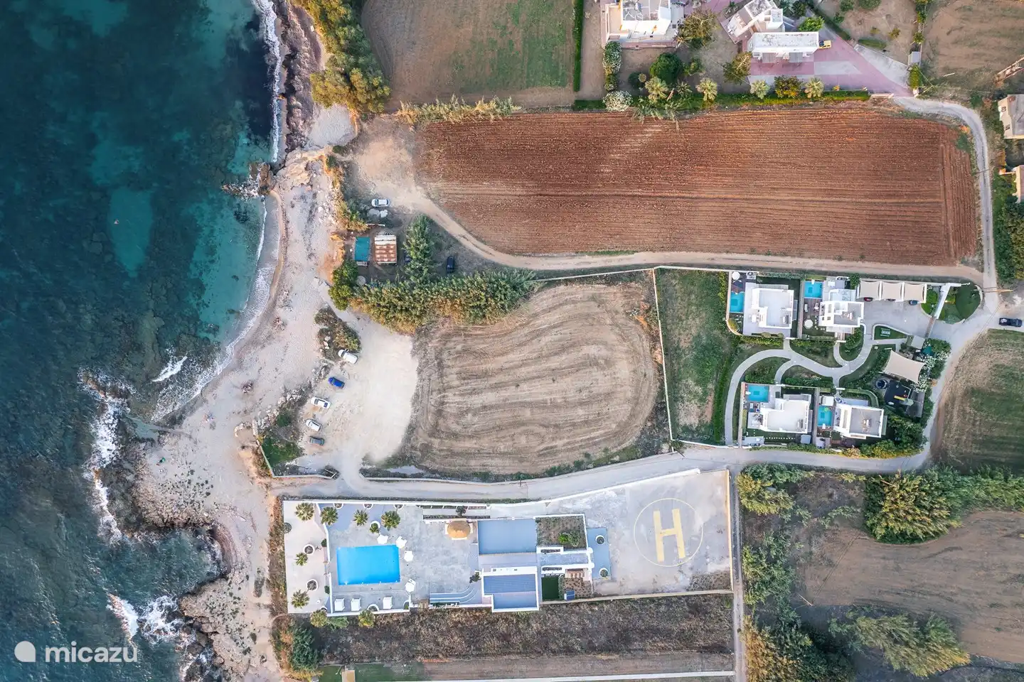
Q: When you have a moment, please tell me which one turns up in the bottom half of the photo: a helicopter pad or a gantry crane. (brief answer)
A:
helicopter pad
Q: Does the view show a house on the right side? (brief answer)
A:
Yes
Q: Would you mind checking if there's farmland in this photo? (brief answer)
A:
Yes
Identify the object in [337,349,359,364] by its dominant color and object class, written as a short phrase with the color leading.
white vehicle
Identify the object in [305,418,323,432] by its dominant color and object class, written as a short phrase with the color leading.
white car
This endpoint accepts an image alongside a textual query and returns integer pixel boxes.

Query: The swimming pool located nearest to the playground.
[817,404,833,428]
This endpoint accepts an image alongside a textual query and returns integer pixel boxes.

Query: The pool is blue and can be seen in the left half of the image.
[335,543,402,588]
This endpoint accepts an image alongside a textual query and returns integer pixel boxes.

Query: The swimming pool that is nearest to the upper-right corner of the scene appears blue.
[804,280,824,299]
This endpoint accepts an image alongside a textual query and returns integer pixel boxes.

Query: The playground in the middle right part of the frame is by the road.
[872,376,925,418]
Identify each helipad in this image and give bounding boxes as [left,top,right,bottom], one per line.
[588,471,729,597]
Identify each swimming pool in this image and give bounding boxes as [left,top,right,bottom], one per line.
[746,384,770,404]
[817,404,833,428]
[804,280,824,299]
[335,543,402,588]
[729,290,746,314]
